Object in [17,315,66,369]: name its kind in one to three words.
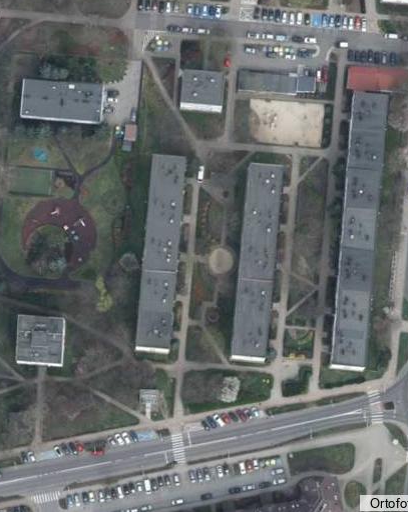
house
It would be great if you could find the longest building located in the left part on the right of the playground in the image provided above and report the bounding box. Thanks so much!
[135,155,187,355]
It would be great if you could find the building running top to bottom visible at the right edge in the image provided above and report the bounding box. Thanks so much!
[331,91,389,371]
